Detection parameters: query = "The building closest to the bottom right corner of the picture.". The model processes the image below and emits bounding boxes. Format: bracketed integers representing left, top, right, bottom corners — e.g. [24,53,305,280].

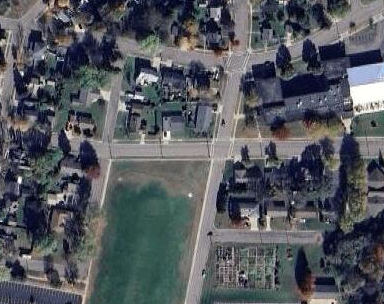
[305,288,339,304]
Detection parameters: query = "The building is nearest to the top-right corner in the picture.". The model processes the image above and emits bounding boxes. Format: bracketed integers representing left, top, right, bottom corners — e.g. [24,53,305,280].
[346,63,384,114]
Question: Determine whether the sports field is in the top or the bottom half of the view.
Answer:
bottom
